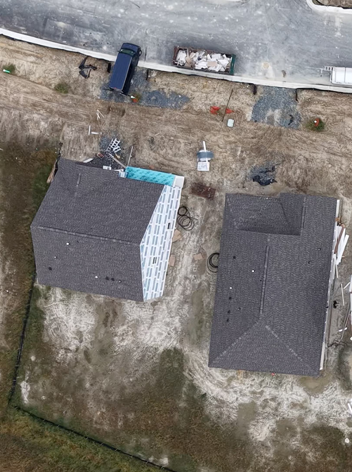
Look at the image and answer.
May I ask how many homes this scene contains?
2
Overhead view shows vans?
Yes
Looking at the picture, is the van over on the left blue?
Yes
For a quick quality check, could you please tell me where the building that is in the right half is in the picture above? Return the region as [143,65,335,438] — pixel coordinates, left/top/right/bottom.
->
[208,192,339,376]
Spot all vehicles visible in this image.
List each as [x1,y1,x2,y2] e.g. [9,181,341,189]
[328,65,352,85]
[97,41,144,97]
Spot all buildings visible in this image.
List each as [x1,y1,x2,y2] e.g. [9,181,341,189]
[31,155,184,302]
[208,192,339,376]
